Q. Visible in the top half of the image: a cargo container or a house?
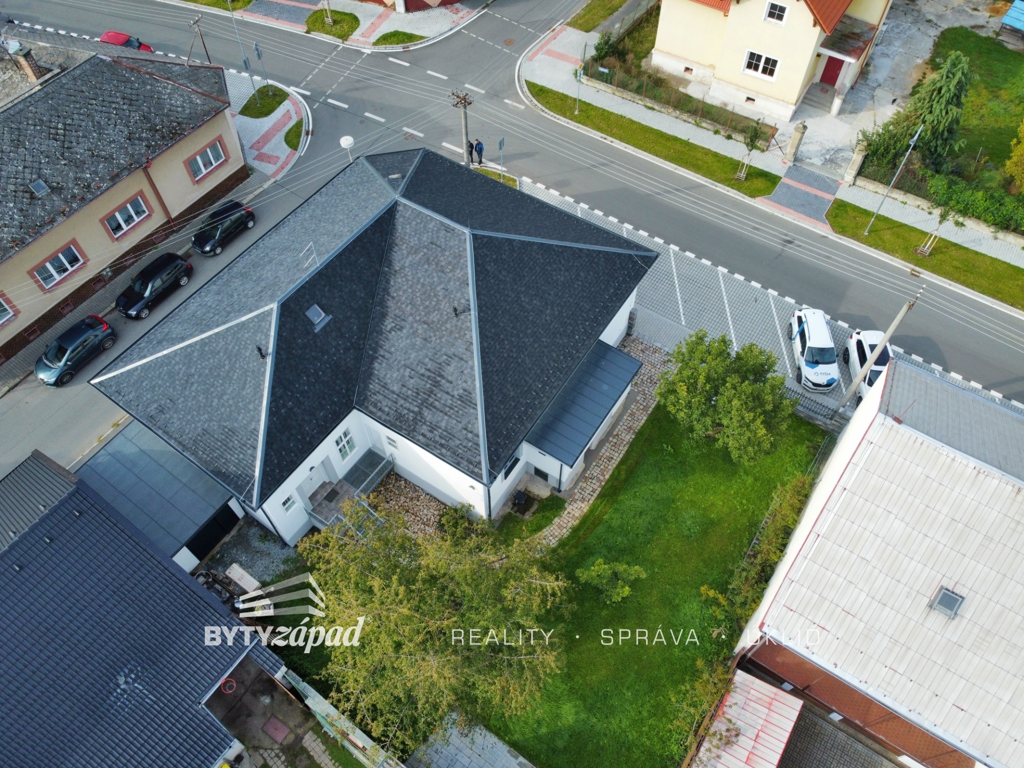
house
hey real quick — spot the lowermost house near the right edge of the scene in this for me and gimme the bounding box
[737,355,1024,768]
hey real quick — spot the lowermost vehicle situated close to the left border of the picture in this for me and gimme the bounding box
[23,315,115,391]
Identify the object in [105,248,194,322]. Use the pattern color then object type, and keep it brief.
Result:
black car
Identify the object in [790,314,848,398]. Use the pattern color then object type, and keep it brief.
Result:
white car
